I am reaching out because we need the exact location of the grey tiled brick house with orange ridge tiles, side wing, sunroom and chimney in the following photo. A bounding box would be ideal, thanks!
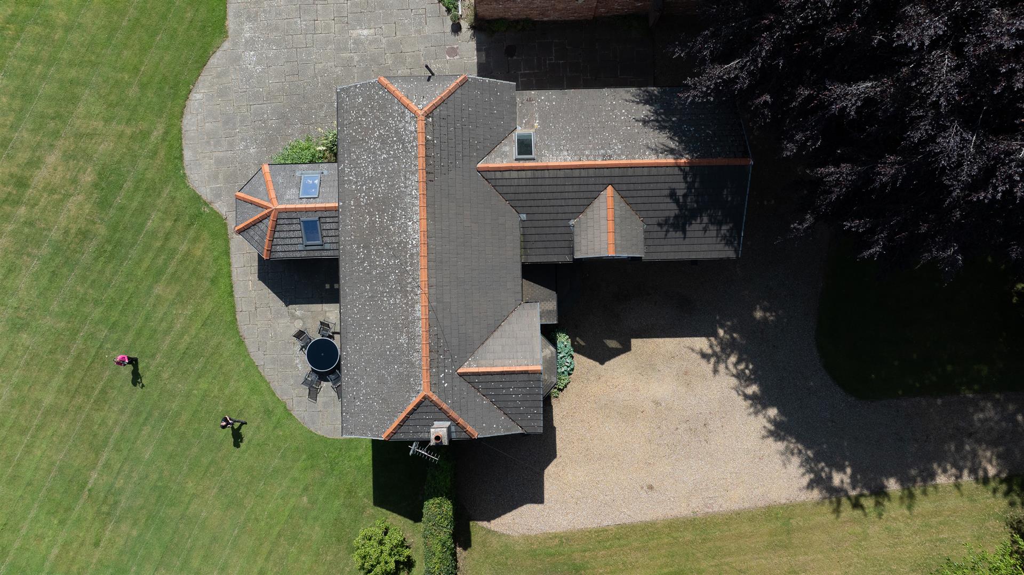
[233,63,752,447]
